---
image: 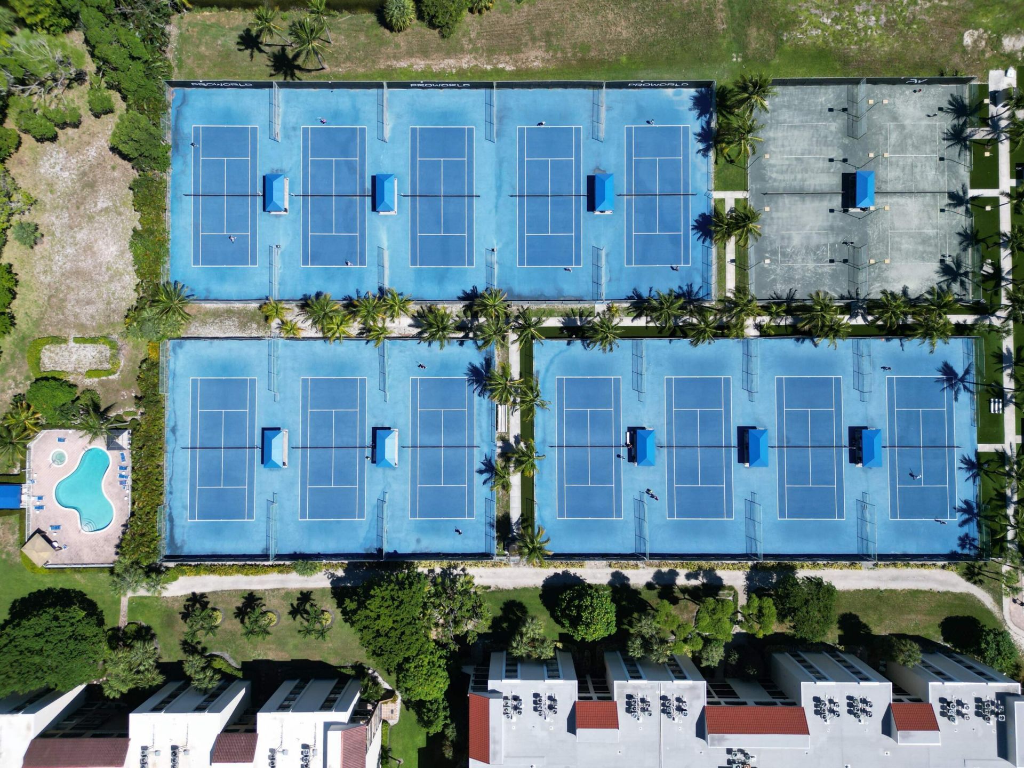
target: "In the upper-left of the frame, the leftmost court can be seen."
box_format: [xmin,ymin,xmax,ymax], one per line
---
[170,89,280,301]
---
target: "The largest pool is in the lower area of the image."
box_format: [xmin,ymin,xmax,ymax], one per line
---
[53,445,116,534]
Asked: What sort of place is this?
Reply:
sports ground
